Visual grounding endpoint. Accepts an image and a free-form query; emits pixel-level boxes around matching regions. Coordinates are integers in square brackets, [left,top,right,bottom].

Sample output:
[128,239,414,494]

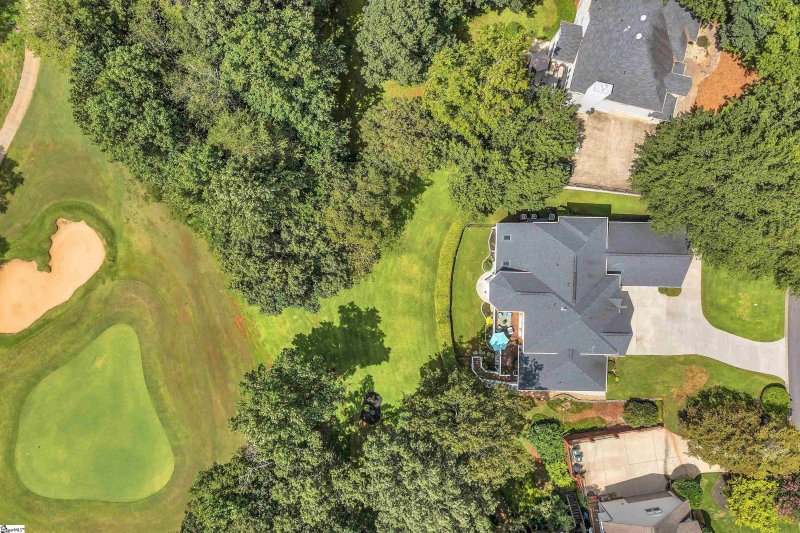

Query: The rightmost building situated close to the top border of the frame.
[548,0,701,124]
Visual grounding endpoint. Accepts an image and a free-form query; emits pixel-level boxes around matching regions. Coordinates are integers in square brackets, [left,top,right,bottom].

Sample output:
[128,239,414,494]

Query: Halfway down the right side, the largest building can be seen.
[484,216,690,393]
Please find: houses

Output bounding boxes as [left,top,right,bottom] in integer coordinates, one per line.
[484,216,690,393]
[591,491,702,533]
[548,0,701,124]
